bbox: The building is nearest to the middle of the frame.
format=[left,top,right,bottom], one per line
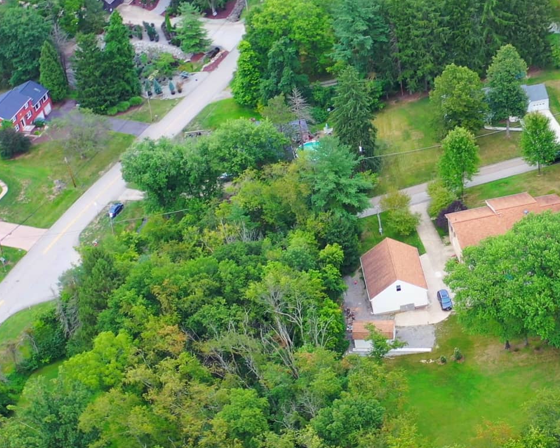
[282,118,313,143]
